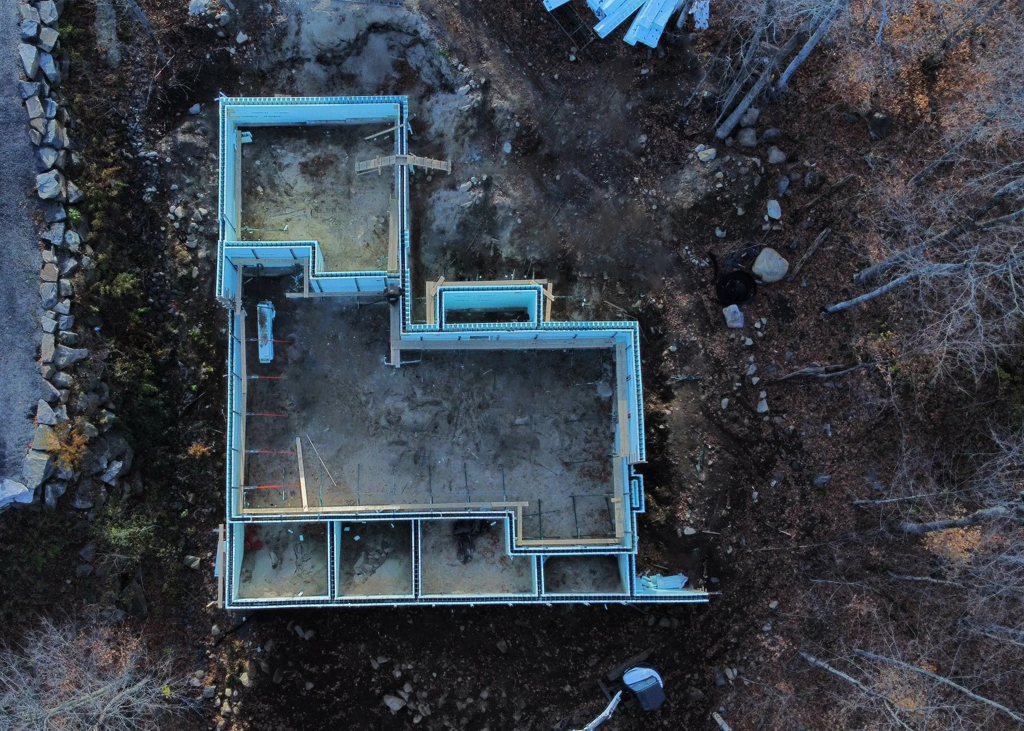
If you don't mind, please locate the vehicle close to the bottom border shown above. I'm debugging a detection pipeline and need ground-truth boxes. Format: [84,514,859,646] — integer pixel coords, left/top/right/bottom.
[582,653,665,731]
